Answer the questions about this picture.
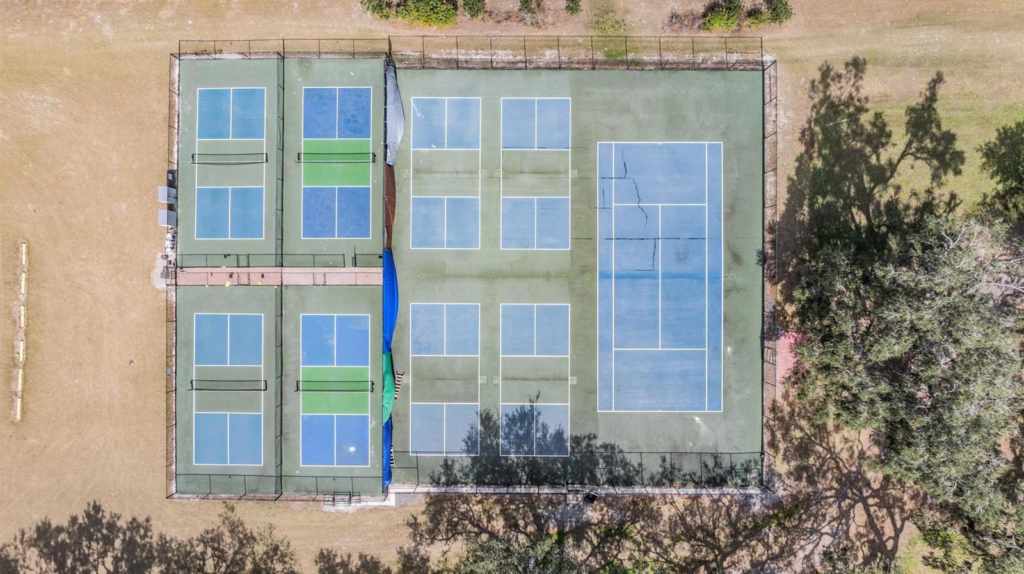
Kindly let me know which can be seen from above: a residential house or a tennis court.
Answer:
tennis court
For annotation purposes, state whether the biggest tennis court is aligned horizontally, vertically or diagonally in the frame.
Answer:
vertically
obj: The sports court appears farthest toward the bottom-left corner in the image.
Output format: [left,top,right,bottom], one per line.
[193,313,263,466]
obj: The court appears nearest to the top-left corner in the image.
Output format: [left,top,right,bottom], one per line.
[195,87,265,239]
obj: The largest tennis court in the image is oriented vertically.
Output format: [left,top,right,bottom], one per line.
[597,142,723,412]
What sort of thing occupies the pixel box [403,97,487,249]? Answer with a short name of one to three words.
sports court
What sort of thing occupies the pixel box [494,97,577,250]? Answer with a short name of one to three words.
sports court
